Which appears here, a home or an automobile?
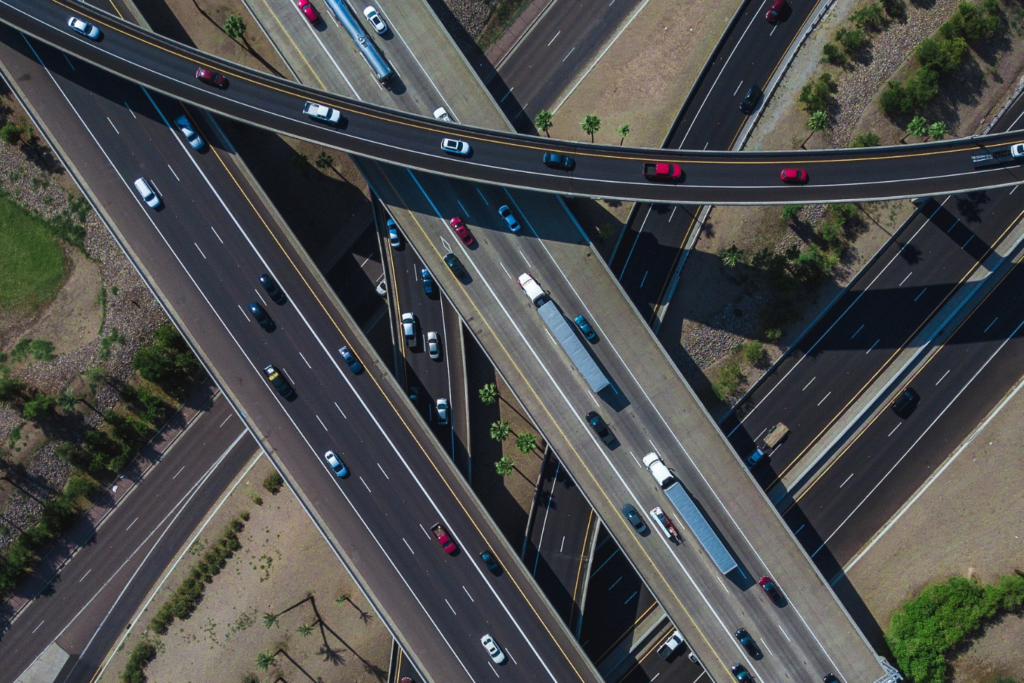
automobile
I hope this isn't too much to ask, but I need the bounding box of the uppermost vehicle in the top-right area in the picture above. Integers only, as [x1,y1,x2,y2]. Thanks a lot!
[764,0,786,24]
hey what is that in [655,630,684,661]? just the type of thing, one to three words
truck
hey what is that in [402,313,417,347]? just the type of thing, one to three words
vehicle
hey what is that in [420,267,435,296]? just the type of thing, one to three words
car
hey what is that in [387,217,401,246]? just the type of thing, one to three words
car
